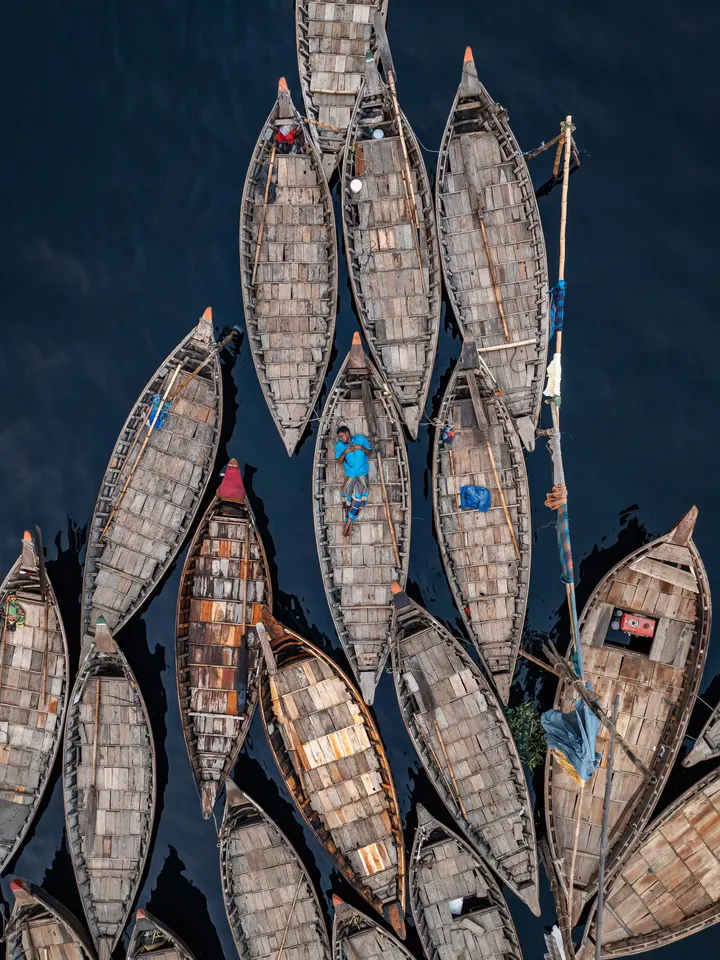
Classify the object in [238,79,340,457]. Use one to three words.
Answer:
boat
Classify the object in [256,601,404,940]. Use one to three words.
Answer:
boat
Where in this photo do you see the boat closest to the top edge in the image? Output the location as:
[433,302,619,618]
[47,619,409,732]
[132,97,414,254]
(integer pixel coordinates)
[289,0,390,189]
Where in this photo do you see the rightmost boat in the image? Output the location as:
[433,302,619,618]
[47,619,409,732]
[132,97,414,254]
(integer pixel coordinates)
[678,664,720,768]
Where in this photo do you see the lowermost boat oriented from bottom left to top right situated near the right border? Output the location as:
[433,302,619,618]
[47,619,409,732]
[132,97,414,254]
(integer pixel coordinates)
[575,763,720,960]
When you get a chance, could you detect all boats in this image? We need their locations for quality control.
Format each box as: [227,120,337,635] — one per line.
[214,773,338,960]
[82,307,228,669]
[575,763,720,960]
[0,531,75,874]
[238,79,340,457]
[176,458,278,819]
[401,799,523,960]
[678,664,720,768]
[325,889,417,960]
[432,47,548,453]
[256,601,404,940]
[0,877,101,960]
[125,903,195,960]
[427,334,532,707]
[63,615,162,959]
[335,52,442,441]
[311,331,413,706]
[387,578,541,919]
[289,0,390,189]
[546,505,715,931]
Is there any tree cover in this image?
No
